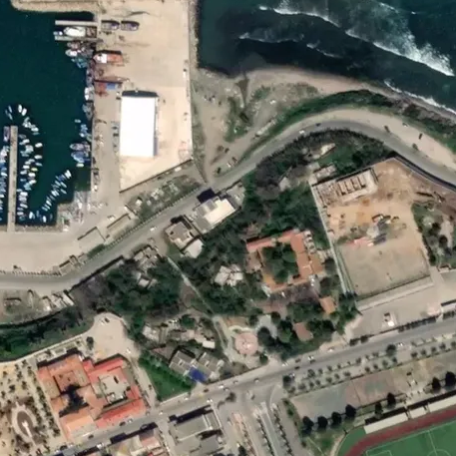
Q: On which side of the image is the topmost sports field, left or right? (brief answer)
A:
right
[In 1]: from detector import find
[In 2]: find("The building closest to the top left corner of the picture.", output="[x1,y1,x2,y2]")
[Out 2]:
[120,97,158,156]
